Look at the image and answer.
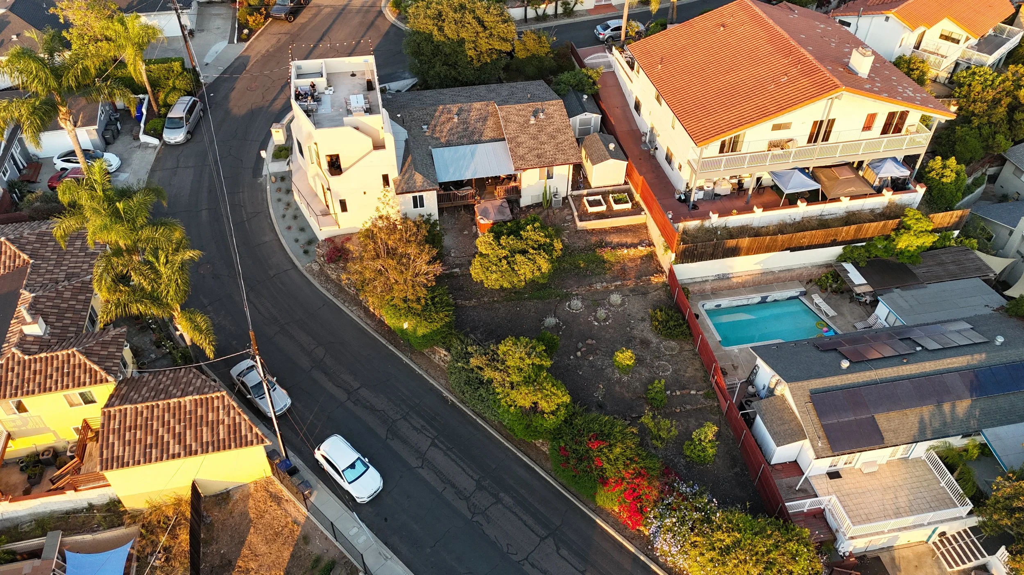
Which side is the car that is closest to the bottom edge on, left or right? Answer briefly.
left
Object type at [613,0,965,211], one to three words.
house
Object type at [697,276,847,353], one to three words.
swimming pool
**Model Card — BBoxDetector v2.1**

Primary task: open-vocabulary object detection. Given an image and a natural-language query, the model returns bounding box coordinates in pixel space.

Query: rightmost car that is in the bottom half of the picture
[312,433,383,505]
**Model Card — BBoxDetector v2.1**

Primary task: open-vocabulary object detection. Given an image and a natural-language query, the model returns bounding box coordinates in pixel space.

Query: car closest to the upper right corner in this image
[594,19,646,43]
